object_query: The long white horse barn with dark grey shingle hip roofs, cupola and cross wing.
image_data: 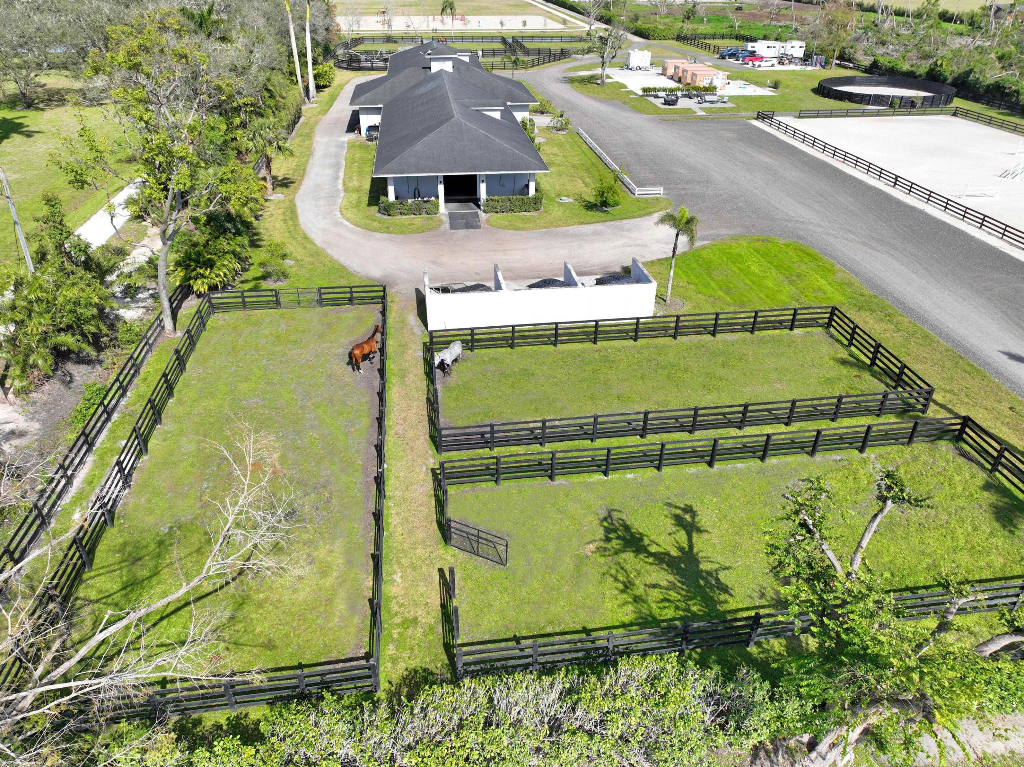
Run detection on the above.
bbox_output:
[348,39,550,212]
